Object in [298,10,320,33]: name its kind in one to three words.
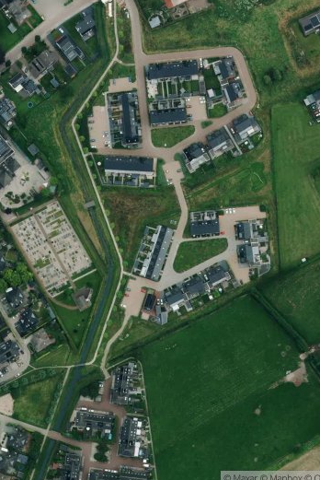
house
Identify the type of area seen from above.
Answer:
residential area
